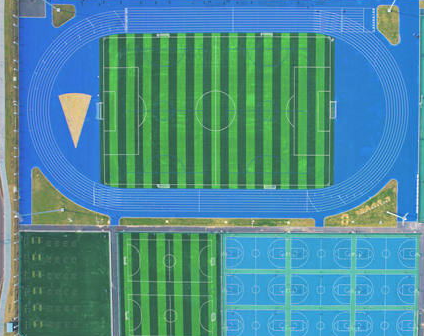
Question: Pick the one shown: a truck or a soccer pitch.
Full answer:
It is a soccer pitch that can be seen here.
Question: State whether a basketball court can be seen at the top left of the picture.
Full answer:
No, there's no basketball court to be seen at the top left of the picture.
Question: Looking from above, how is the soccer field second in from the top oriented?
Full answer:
From this overhead view, the soccer field second in from the top appears to run horizontally.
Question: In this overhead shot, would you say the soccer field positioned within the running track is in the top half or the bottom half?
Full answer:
The soccer field positioned within the running track sits in the top half of the picture.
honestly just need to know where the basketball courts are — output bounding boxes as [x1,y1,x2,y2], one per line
[355,311,413,336]
[225,237,285,269]
[290,237,351,269]
[291,274,350,306]
[355,274,415,306]
[226,274,285,305]
[227,310,285,336]
[355,237,416,270]
[291,310,350,336]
